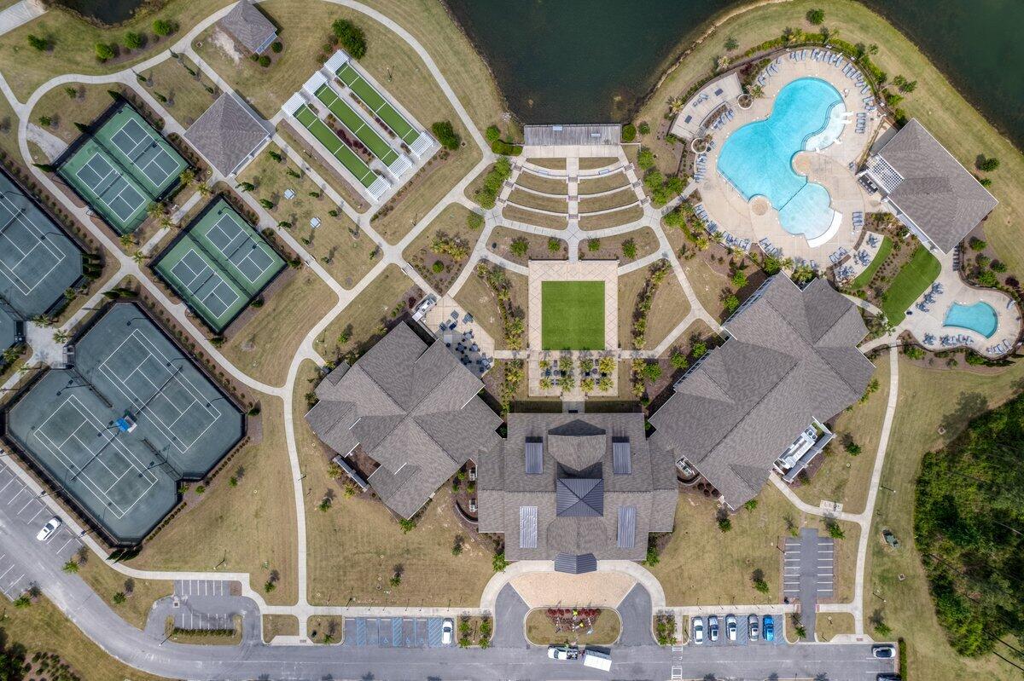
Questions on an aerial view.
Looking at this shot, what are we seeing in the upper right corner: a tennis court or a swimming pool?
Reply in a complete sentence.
It is a swimming pool that can be seen in the upper right corner.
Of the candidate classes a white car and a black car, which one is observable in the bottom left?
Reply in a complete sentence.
Visible in the bottom left is a white car.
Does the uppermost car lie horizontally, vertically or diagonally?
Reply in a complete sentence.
What the image shows is the uppermost car lying diagonally.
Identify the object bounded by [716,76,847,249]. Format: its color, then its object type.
blue swimming pool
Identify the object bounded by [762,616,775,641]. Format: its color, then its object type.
blue vehicle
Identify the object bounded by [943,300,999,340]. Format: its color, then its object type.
blue swimming pool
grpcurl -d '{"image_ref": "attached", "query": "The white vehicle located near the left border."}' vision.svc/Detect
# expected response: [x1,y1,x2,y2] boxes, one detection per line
[36,517,62,541]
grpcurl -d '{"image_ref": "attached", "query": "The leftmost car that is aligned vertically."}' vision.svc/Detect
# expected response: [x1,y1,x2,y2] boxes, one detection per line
[441,620,453,645]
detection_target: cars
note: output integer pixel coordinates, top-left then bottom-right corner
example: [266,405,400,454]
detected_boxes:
[692,618,703,644]
[441,620,453,645]
[871,645,894,658]
[762,616,775,641]
[875,673,900,681]
[36,517,62,541]
[707,616,719,641]
[747,615,759,641]
[725,615,737,641]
